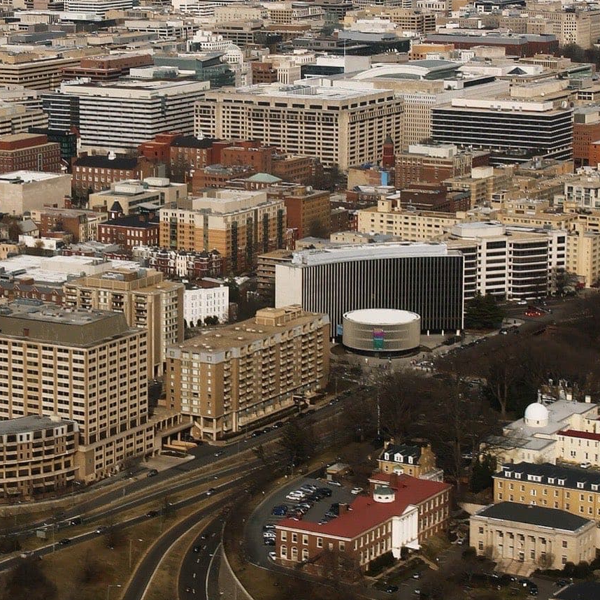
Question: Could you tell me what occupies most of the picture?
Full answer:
The largest share of the image is taken up by buildings.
